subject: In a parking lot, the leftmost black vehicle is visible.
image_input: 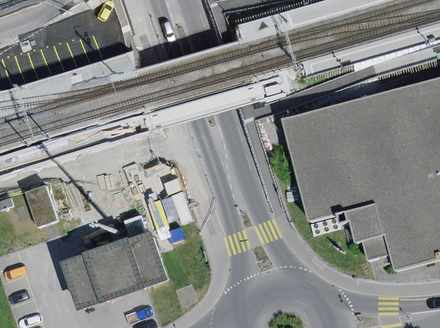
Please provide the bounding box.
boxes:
[8,290,30,304]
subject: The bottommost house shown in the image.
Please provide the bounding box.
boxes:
[60,232,170,309]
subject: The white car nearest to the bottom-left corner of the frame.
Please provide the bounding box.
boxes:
[18,315,42,328]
